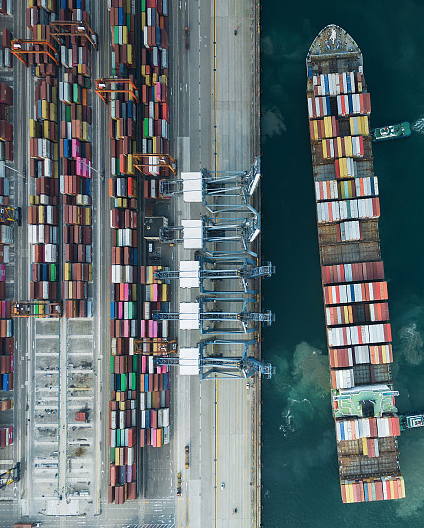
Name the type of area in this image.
port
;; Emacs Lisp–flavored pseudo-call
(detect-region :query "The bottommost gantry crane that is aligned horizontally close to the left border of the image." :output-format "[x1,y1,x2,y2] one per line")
[9,298,60,319]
